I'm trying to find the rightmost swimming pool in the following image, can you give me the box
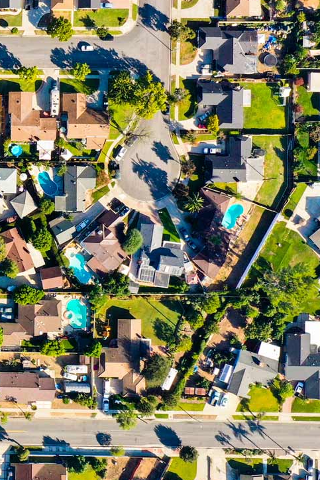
[222,204,244,230]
